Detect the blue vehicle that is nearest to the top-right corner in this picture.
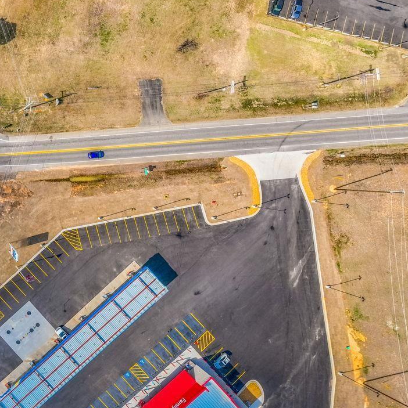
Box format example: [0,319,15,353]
[289,0,302,19]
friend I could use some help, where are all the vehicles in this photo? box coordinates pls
[55,325,66,338]
[213,351,232,368]
[271,0,282,14]
[88,151,105,158]
[289,0,302,19]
